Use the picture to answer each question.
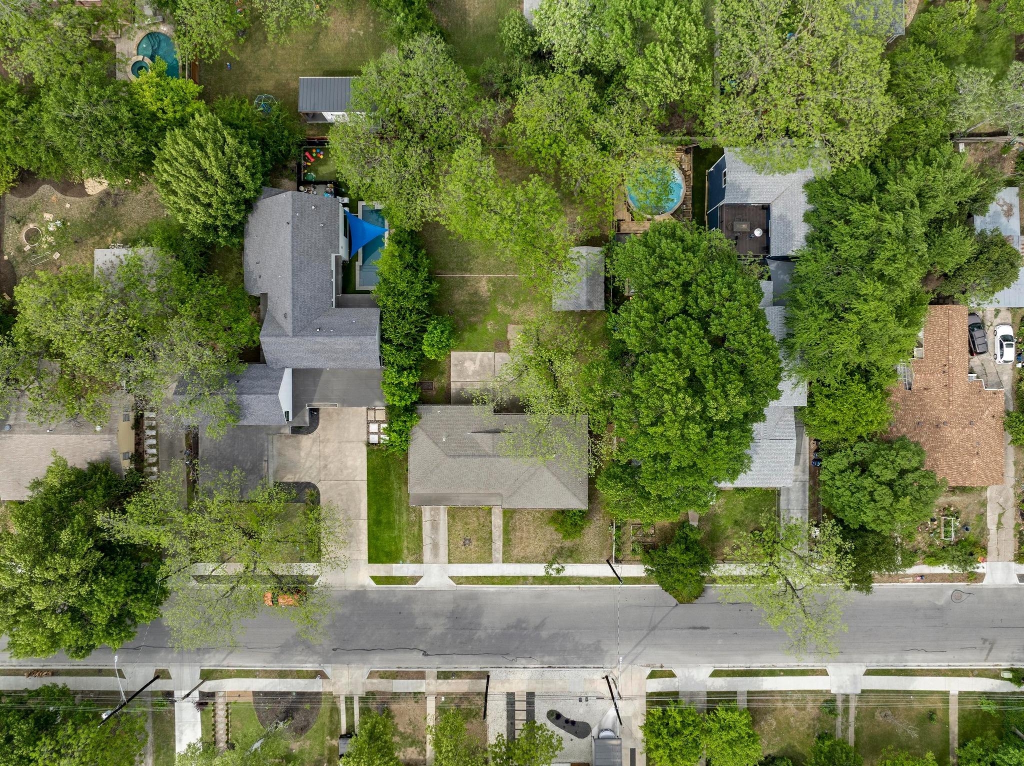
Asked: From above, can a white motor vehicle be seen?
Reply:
Yes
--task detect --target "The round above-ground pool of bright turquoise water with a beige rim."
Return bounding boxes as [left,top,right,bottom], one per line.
[626,163,686,222]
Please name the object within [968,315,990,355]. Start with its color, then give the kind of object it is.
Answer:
gray car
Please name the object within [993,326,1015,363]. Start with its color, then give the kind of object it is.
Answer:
white car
